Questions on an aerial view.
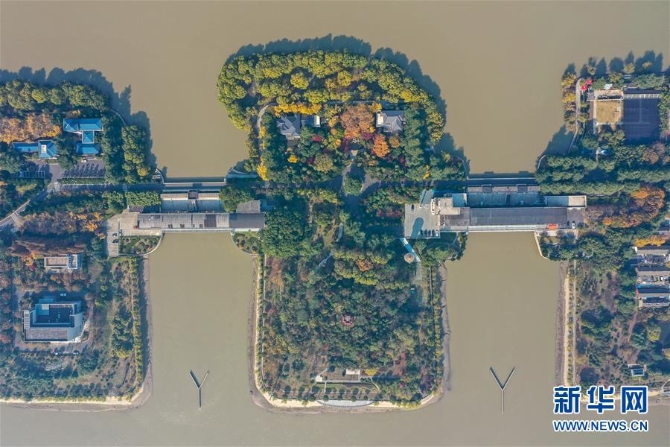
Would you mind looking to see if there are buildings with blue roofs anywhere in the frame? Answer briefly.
Yes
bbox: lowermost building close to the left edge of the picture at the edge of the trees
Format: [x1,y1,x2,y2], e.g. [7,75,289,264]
[24,298,86,342]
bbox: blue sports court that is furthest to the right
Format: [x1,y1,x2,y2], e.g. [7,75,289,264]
[620,86,662,141]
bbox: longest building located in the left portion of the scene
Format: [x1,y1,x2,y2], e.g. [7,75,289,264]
[129,200,266,233]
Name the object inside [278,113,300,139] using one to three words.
house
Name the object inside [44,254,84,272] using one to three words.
building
